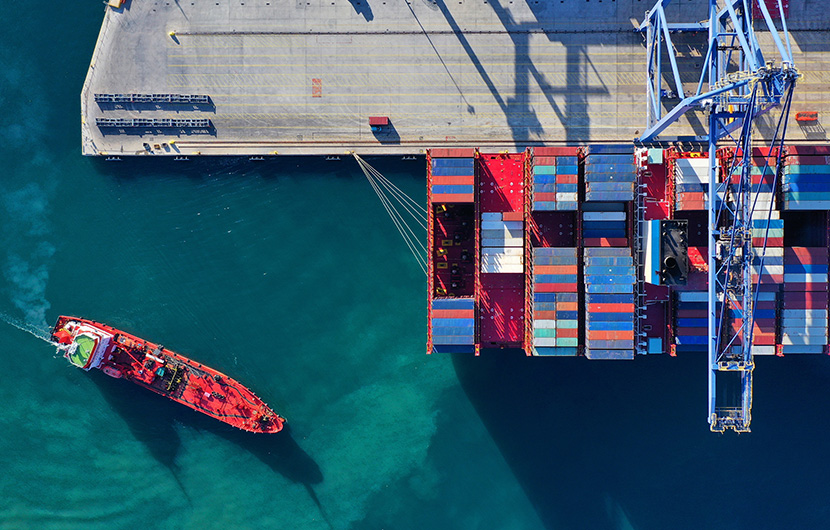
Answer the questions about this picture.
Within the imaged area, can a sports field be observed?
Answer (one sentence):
No, the photo shows no sports field.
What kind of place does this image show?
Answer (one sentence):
The area seen from above is a port.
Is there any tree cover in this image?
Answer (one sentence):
No, tree cover can't be seen anywhere here.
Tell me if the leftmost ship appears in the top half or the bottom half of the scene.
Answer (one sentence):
The leftmost ship is in the bottom half of the image.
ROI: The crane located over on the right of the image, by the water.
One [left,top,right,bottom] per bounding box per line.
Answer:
[630,0,809,434]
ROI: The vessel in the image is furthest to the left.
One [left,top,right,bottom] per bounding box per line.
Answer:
[49,314,291,432]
